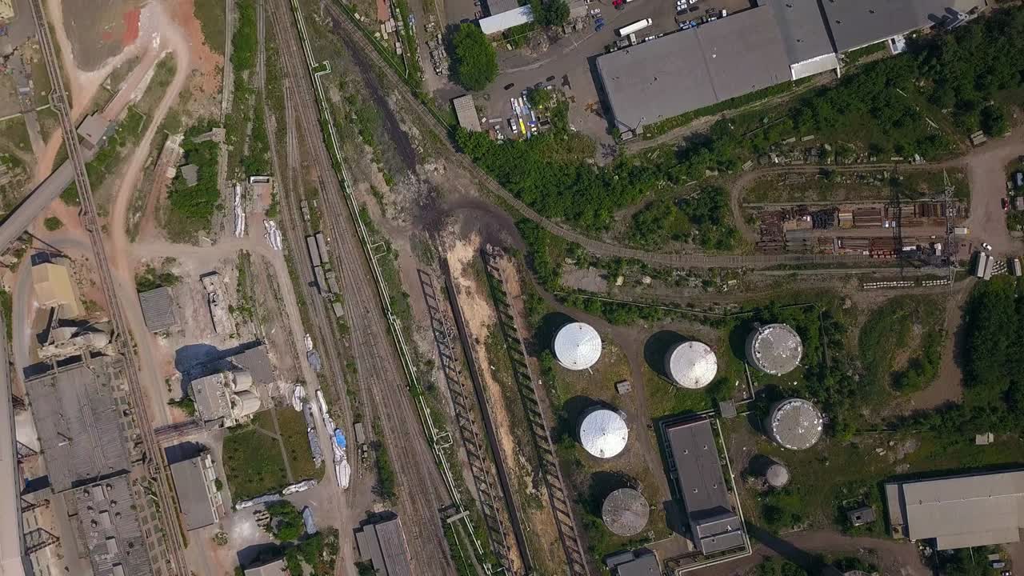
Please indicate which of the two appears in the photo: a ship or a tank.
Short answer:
tank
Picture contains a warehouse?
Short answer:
Yes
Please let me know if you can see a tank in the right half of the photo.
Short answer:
Yes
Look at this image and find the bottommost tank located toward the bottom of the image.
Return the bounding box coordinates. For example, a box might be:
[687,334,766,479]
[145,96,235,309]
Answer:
[600,481,650,536]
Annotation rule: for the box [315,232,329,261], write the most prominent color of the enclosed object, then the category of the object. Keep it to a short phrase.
gray rail car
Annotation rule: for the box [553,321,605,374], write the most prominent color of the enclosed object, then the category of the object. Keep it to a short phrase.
white storage tank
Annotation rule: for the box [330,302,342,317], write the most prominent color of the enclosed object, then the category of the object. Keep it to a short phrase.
gray rail car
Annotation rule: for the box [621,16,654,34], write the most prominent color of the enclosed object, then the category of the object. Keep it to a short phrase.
white vehicle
